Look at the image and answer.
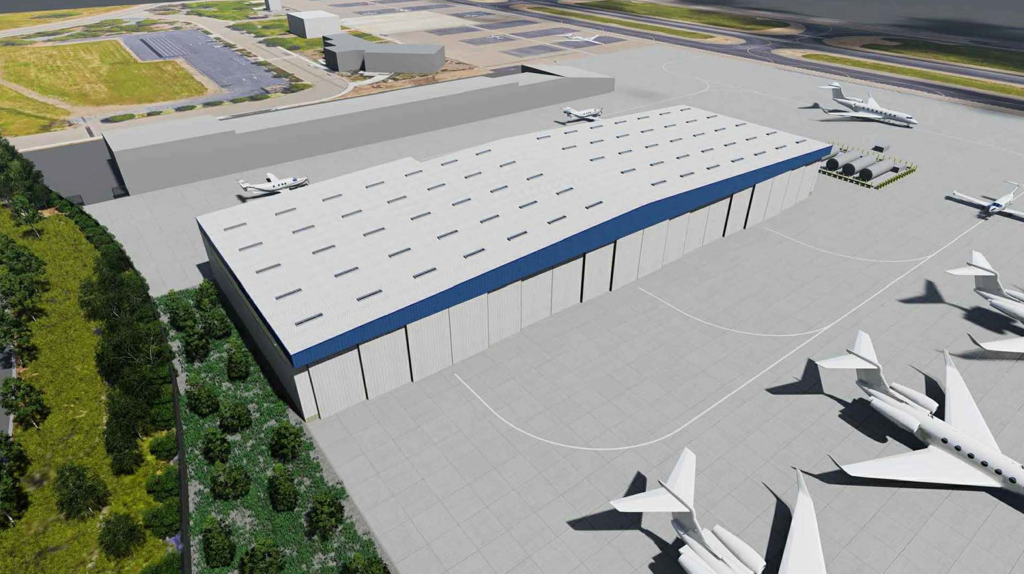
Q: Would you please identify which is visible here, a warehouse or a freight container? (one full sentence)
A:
The image shows a warehouse.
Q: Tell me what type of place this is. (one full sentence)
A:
This image shows an airport.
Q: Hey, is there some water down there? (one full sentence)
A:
No, the picture contains no water.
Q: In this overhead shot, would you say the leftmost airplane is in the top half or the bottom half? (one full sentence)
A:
Seen from above, the leftmost airplane lies in the top half of the view.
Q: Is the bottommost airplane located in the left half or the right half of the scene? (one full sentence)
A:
The bottommost airplane sits on the right side.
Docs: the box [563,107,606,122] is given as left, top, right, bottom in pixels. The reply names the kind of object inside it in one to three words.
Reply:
airplane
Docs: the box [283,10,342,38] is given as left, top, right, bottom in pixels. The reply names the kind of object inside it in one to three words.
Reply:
building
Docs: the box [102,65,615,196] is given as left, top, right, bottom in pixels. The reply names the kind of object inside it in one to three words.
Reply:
warehouse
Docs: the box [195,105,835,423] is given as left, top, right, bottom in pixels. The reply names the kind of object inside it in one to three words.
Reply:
hangar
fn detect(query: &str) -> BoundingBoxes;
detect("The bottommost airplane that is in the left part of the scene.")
[238,172,309,192]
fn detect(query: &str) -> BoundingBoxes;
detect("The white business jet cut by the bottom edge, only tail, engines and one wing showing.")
[609,451,828,574]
